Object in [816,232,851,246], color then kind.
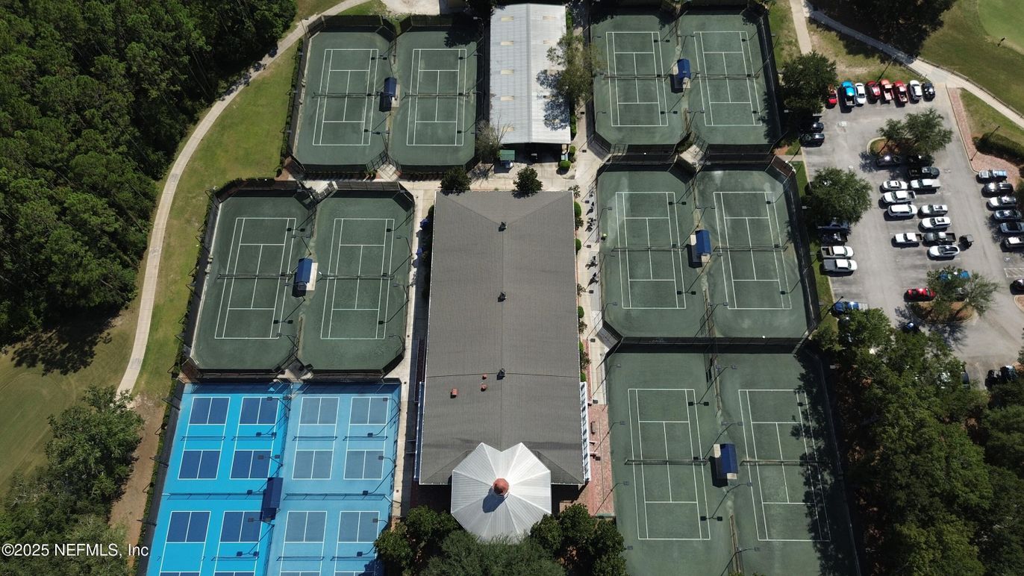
black vehicle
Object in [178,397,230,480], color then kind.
blue sports court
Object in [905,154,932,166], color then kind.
black vehicle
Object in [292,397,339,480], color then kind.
blue sports court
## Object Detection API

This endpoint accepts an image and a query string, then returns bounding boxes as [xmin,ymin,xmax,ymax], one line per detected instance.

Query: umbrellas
[418,218,431,231]
[413,247,427,260]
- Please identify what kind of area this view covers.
sports ground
